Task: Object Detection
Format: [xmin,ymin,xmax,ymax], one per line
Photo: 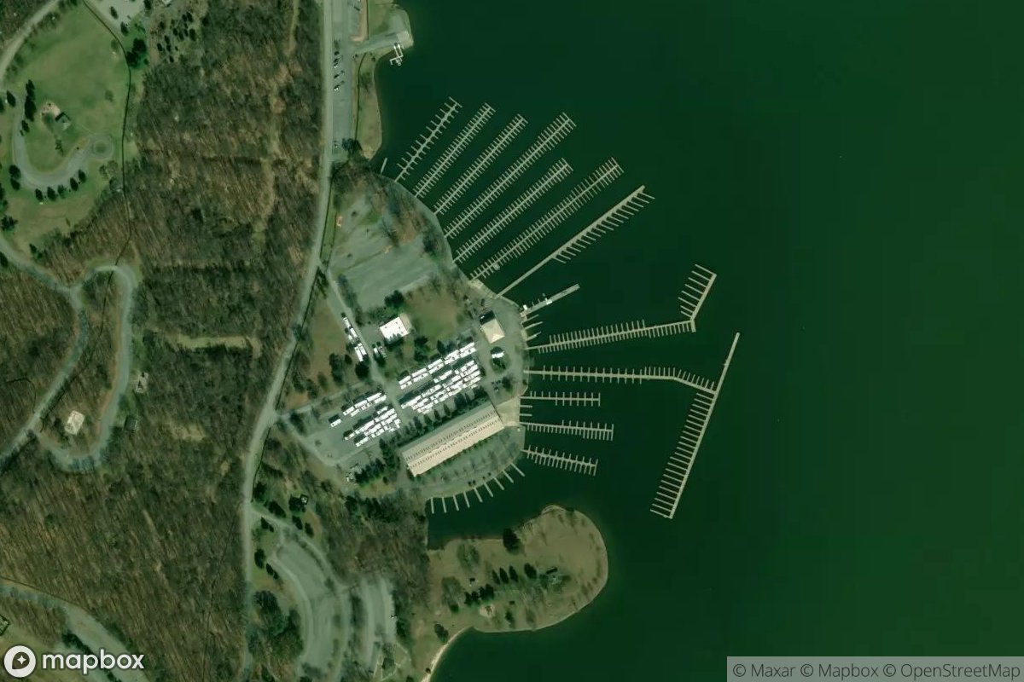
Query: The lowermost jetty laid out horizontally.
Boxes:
[521,445,598,476]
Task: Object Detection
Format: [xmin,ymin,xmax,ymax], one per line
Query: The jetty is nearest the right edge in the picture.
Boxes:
[650,333,739,518]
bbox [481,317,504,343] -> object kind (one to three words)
building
